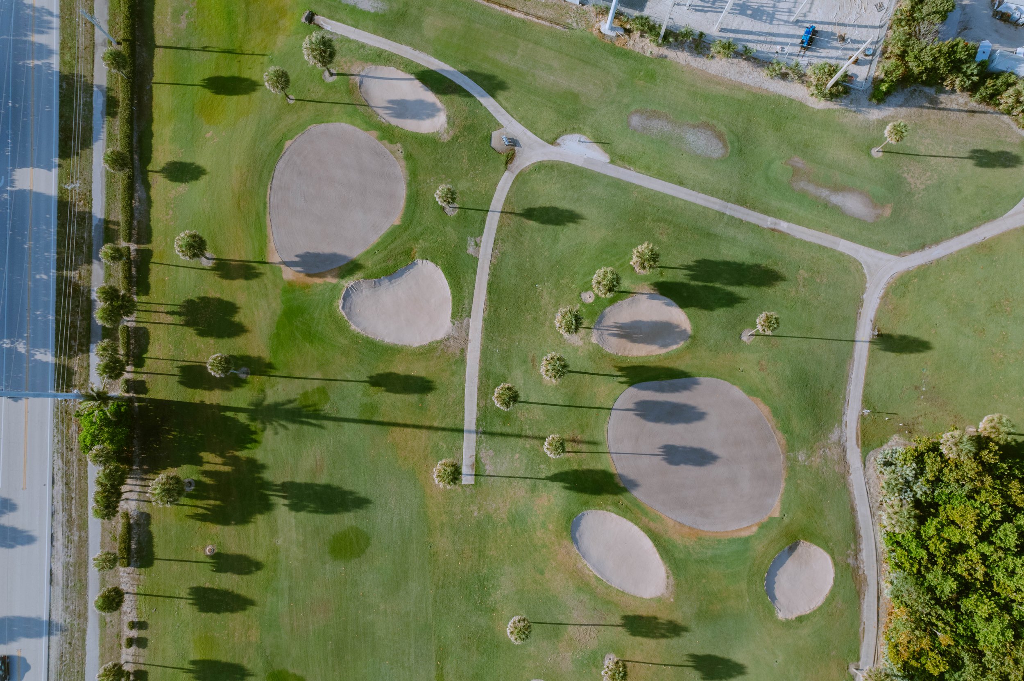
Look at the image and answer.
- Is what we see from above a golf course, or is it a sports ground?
golf course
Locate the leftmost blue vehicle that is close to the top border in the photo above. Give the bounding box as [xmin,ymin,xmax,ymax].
[798,23,817,61]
